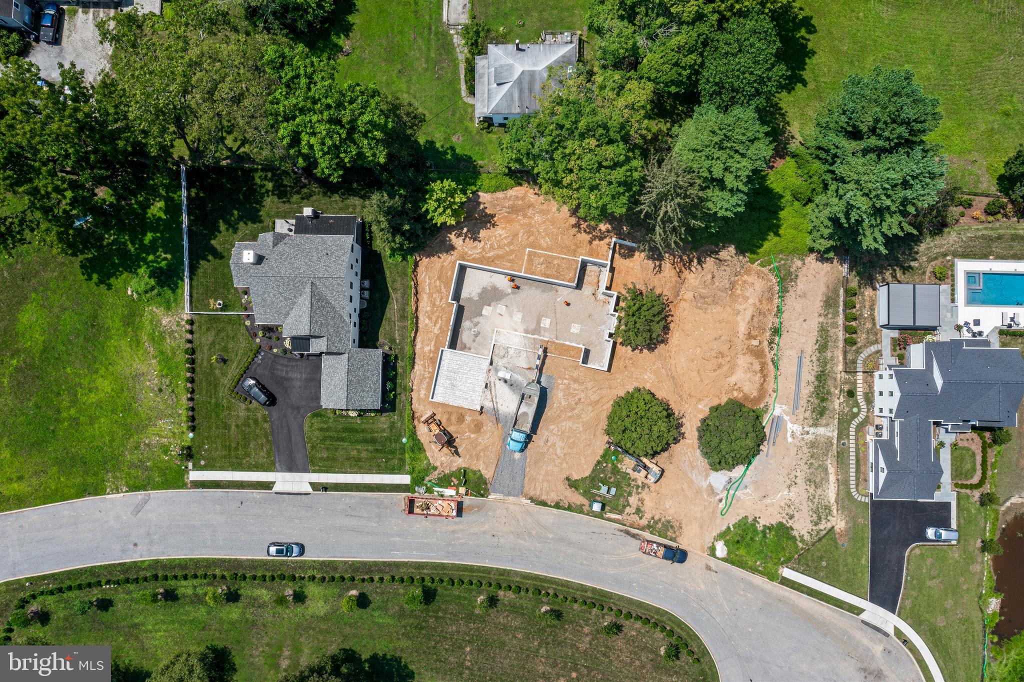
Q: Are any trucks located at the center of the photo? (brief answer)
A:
Yes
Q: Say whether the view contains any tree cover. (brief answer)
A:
Yes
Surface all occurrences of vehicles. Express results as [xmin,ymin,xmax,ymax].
[610,441,666,484]
[642,539,687,564]
[268,541,305,559]
[419,407,454,456]
[922,525,963,544]
[241,376,276,408]
[41,3,64,47]
[509,349,548,456]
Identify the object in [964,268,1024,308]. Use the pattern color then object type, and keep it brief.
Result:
blue swimming pool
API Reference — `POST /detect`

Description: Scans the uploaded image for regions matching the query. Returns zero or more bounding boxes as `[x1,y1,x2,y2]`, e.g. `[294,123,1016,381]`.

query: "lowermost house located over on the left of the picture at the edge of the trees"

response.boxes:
[229,208,384,410]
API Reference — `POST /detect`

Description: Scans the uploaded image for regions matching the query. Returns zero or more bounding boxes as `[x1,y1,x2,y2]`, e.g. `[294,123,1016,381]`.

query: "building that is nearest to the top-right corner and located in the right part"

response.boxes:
[879,283,941,327]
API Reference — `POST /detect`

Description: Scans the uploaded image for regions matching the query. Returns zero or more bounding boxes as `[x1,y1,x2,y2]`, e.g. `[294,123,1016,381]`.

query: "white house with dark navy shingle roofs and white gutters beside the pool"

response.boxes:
[868,338,1024,500]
